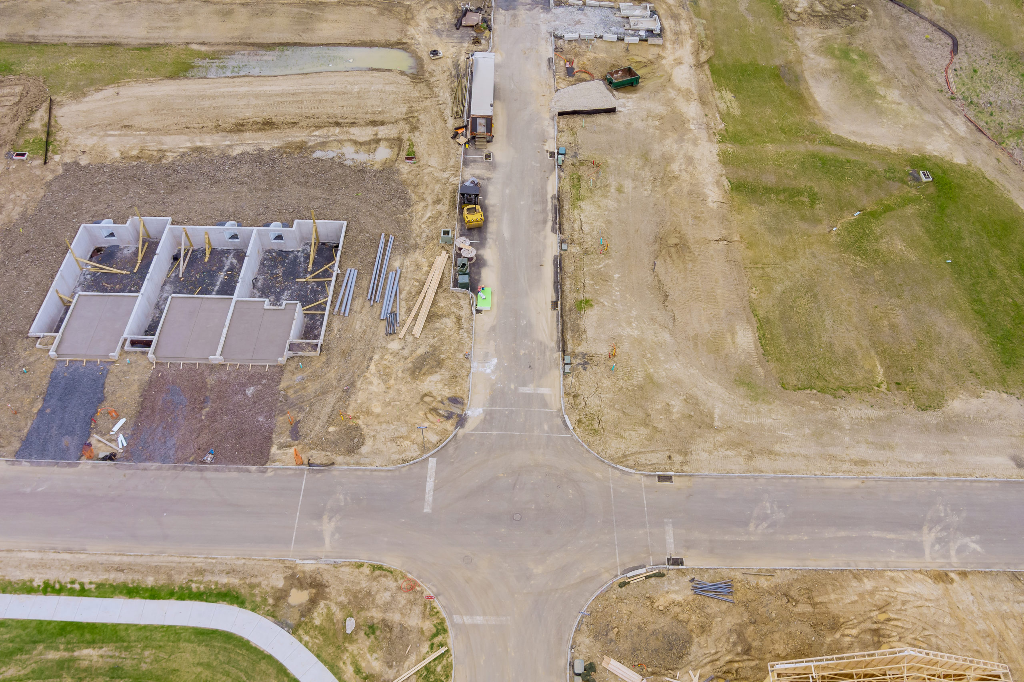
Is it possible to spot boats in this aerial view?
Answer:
No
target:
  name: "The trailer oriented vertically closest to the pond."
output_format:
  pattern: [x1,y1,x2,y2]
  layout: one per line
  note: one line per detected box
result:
[470,52,495,137]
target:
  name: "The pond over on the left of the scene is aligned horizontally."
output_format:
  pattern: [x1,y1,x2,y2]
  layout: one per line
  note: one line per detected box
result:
[188,46,413,78]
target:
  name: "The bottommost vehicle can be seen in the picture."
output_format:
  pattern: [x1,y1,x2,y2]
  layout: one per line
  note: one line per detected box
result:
[462,176,484,222]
